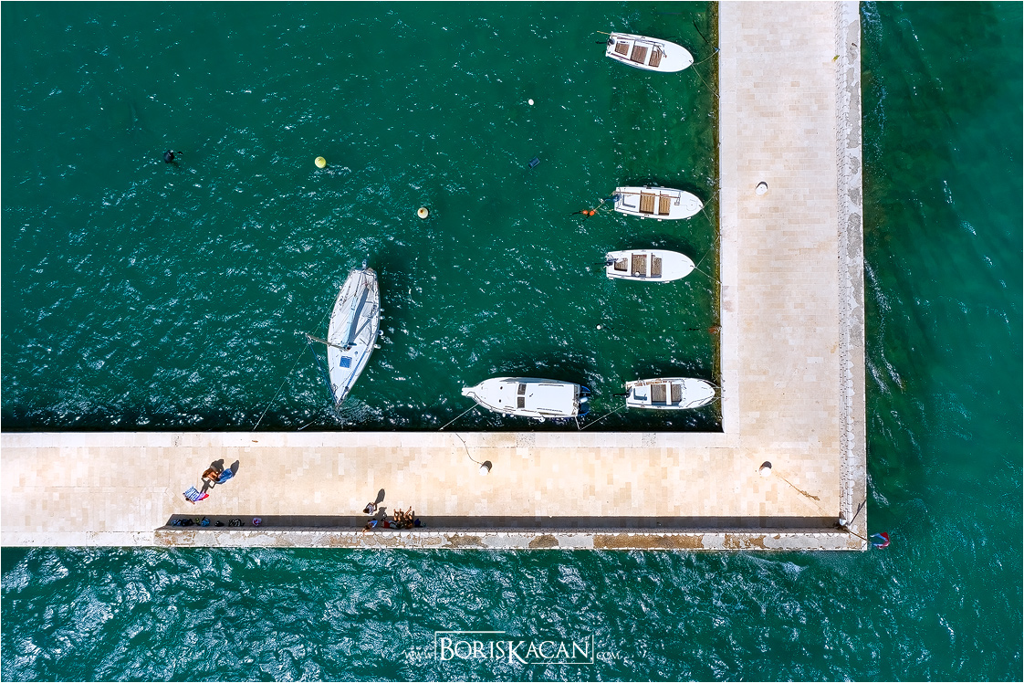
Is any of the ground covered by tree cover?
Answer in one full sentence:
No, there is no tree cover in the image.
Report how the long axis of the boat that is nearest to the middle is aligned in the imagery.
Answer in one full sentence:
Seen from above, the boat that is nearest to the middle lies horizontally.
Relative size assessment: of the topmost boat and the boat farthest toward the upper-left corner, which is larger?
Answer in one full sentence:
The boat farthest toward the upper-left corner is larger than the topmost boat.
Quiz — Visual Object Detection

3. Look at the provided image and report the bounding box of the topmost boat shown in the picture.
[594,29,693,73]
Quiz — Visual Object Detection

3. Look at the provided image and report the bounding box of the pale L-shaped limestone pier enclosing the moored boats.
[0,0,840,547]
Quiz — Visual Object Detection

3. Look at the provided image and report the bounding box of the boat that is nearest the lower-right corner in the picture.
[610,376,720,410]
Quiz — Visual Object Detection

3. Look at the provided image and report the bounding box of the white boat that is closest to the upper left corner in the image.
[302,261,381,407]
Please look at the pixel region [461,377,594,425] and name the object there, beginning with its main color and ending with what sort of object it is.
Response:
white boat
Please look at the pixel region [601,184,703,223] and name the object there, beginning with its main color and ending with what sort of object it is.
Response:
white boat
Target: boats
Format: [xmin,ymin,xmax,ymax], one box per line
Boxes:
[461,377,594,425]
[601,184,703,223]
[594,29,693,73]
[302,261,381,407]
[610,376,720,410]
[593,249,695,285]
